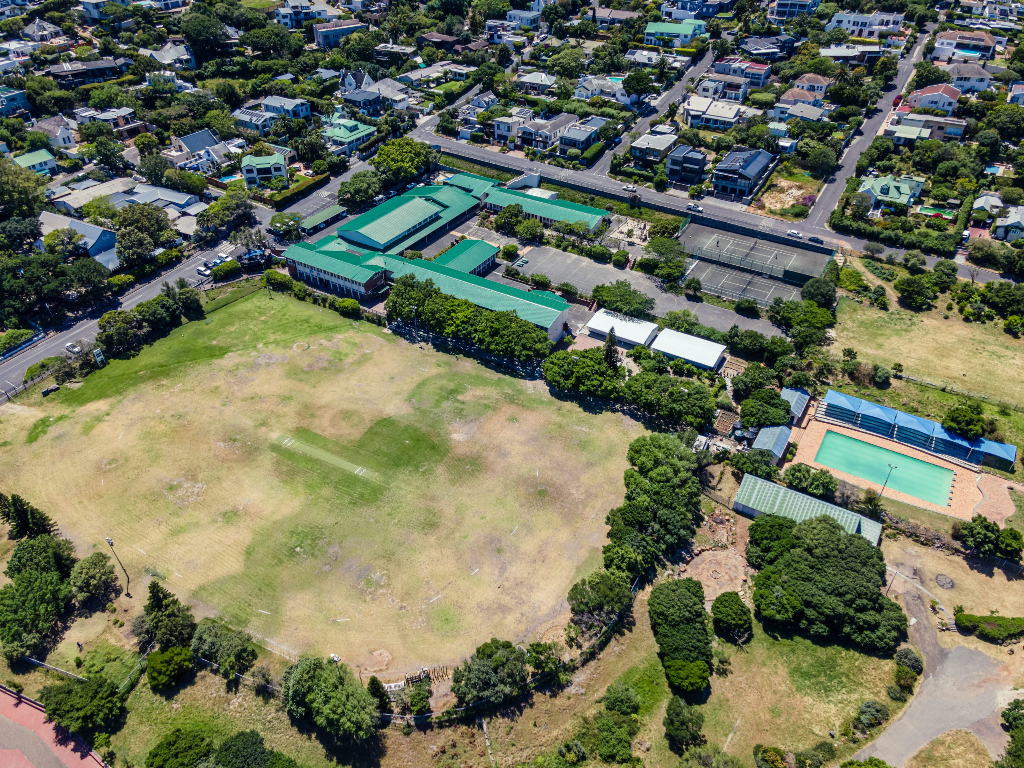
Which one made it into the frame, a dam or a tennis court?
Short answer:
tennis court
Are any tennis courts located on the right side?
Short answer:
Yes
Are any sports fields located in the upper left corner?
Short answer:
No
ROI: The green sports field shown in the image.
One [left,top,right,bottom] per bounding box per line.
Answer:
[275,435,378,479]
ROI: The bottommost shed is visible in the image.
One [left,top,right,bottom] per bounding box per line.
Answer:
[734,481,883,551]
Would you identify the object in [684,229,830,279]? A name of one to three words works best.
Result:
tennis court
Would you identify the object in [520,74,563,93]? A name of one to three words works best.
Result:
house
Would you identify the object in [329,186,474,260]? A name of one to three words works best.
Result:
building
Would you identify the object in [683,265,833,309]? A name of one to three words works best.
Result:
tennis court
